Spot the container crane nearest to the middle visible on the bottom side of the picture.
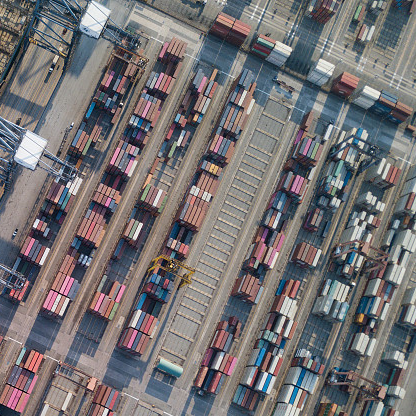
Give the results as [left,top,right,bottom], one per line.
[144,254,195,290]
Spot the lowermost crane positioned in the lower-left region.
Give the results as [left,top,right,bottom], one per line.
[49,360,98,392]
